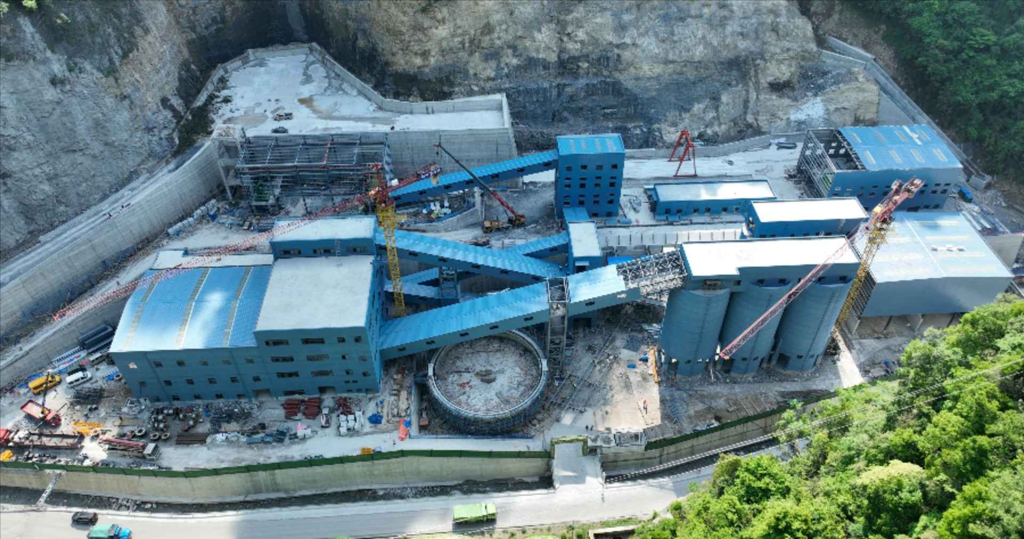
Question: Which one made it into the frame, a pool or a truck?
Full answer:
There is a truck in the scene.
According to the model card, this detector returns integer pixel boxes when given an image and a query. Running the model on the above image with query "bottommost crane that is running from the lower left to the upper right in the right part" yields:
[713,172,922,383]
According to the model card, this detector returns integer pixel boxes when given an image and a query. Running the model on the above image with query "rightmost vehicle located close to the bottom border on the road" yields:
[451,504,501,529]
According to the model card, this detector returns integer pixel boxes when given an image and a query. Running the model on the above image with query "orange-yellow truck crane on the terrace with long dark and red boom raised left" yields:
[434,143,530,234]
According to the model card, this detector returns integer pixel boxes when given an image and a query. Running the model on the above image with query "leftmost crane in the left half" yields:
[45,161,442,348]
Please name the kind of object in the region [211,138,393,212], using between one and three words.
building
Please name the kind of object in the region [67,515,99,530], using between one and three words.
car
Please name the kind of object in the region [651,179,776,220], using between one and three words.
shed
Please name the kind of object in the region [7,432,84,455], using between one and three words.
trailer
